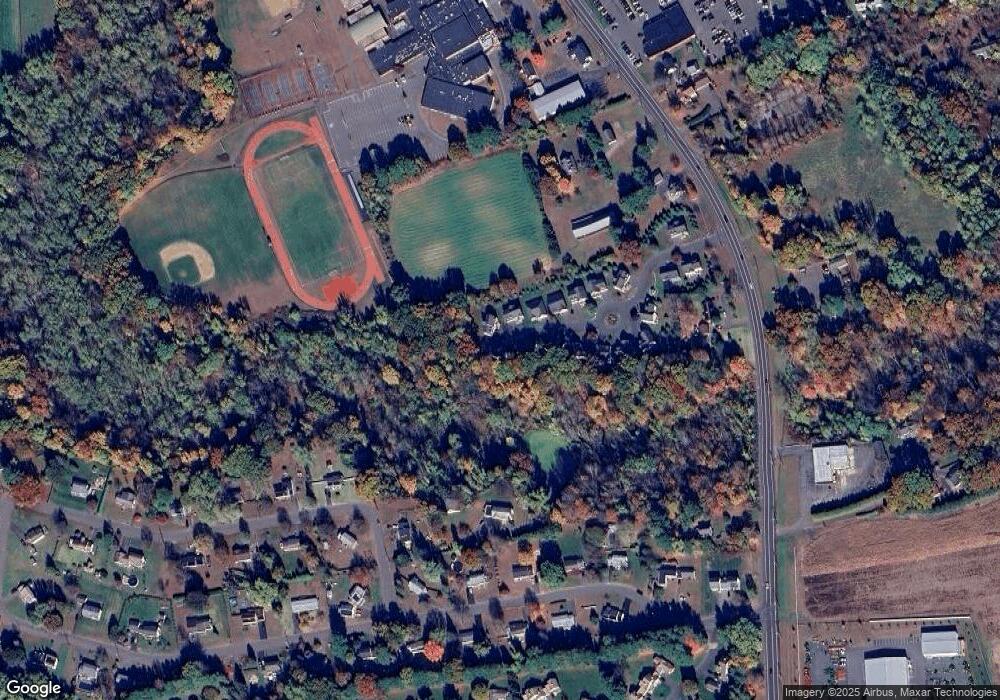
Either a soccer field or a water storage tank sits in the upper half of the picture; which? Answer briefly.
soccer field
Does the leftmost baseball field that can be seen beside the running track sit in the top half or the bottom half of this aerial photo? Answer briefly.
top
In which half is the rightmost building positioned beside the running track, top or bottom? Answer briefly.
top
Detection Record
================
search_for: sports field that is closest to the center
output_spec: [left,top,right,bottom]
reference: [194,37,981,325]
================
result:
[391,150,548,290]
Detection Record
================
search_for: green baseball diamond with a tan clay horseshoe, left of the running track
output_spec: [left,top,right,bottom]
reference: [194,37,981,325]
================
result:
[122,168,281,292]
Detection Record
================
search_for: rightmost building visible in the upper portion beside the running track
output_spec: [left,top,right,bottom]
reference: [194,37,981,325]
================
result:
[343,0,499,120]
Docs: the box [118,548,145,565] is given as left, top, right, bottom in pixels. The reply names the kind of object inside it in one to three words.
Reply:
house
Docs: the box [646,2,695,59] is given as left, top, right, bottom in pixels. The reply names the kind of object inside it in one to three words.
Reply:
building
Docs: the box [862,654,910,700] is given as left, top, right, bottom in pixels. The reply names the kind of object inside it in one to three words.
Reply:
building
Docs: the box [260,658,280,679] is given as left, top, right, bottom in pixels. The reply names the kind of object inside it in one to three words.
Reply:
house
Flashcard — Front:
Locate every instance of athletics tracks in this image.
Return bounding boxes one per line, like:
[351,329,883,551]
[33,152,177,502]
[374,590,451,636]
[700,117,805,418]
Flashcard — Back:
[247,114,383,307]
